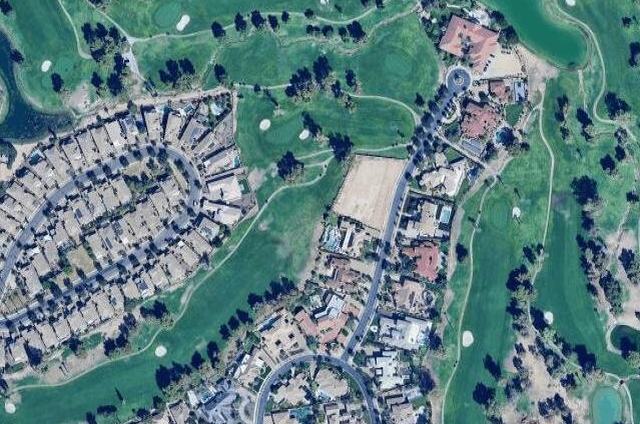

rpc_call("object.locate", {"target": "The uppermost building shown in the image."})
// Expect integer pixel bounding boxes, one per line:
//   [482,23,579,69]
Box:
[440,14,498,79]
